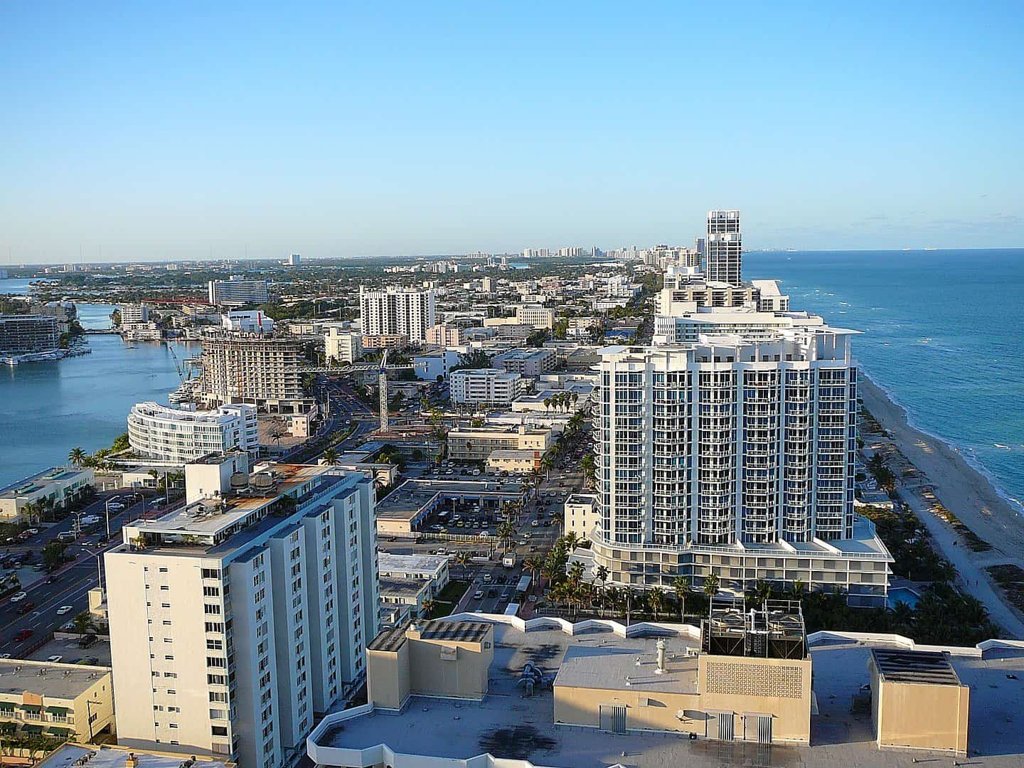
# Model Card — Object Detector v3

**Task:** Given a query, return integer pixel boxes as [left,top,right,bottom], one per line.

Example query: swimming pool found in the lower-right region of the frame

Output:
[882,584,924,614]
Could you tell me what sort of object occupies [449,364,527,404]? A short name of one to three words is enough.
building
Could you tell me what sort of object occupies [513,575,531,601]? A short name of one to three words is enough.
vehicle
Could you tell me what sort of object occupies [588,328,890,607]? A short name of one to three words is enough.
building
